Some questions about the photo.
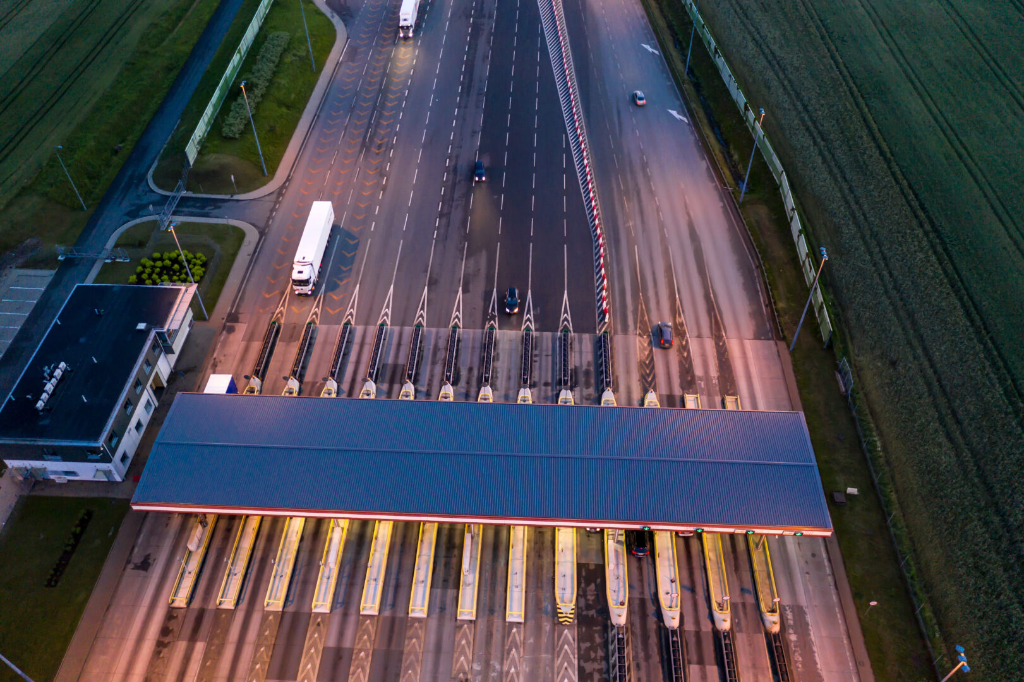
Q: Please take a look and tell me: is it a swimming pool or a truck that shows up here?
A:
truck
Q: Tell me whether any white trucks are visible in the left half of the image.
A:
Yes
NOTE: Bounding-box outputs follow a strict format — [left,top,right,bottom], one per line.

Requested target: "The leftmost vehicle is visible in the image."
[204,374,238,392]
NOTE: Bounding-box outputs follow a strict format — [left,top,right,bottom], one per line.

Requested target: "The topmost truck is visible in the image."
[398,0,423,41]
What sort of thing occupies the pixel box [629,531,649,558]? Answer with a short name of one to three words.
car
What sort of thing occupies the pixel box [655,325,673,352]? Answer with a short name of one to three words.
car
